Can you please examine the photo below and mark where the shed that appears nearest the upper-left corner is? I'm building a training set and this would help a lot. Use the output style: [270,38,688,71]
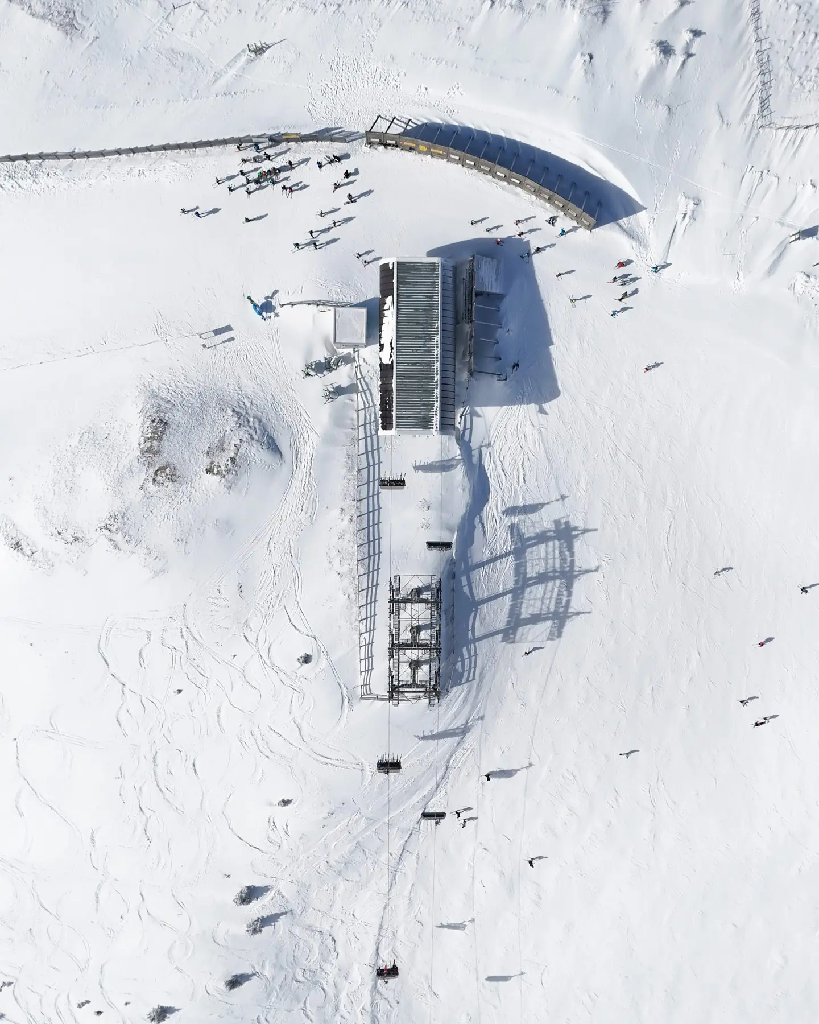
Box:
[334,308,367,348]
